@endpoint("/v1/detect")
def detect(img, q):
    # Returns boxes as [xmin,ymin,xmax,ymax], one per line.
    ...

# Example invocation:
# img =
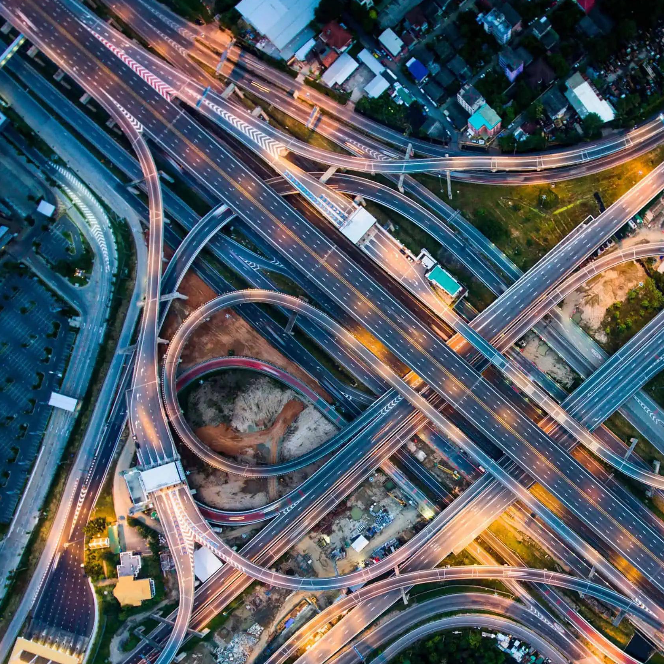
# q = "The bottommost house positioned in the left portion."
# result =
[113,573,157,606]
